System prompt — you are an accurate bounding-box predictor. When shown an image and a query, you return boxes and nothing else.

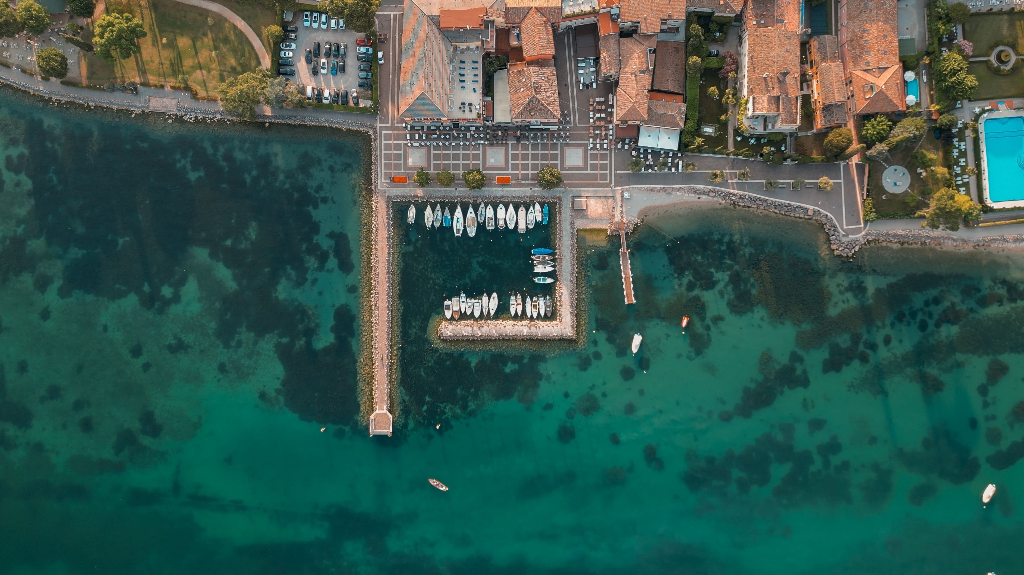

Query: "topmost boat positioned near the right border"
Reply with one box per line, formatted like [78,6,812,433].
[983,483,997,503]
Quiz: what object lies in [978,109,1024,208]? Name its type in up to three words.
swimming pool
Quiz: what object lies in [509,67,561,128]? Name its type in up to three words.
house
